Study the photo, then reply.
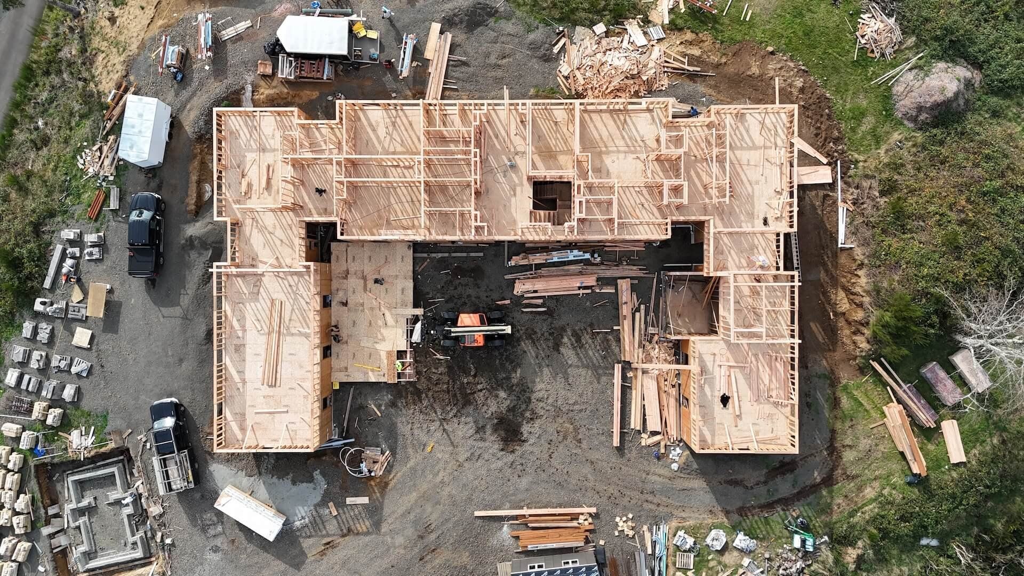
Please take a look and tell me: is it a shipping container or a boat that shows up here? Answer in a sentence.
Looking from above, you can make out a shipping container.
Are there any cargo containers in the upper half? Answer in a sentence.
No, no cargo container can be made out in the upper half.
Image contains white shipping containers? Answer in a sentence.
Yes, looking at the shot, I can spot a white shipping container.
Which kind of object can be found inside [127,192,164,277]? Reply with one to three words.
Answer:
truck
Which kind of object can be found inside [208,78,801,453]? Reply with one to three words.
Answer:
house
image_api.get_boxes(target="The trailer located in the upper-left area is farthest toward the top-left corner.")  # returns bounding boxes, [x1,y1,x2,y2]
[120,93,169,176]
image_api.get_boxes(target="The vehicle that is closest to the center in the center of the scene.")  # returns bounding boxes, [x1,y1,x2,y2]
[409,313,511,347]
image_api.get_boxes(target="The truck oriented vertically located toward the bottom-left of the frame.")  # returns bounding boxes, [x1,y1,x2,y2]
[155,407,200,495]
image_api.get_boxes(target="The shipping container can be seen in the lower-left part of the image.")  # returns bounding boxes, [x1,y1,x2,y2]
[214,483,289,541]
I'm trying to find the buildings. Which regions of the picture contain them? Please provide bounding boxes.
[509,551,605,576]
[208,78,801,453]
